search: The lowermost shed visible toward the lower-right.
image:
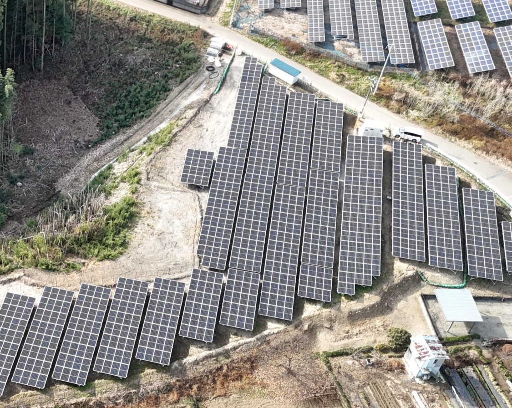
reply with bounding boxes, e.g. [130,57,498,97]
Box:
[407,327,459,383]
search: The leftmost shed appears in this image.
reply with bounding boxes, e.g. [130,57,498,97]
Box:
[269,55,304,84]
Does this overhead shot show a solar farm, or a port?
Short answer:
solar farm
